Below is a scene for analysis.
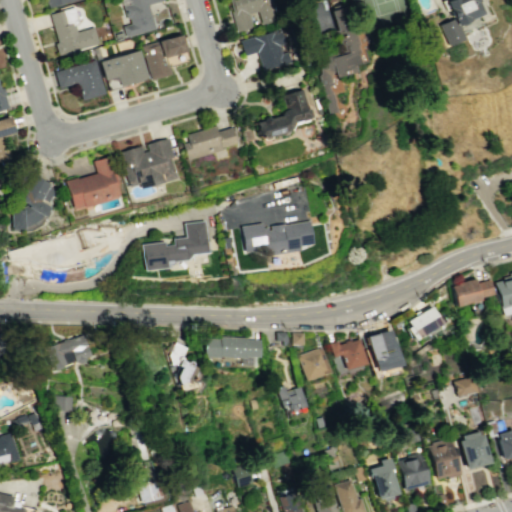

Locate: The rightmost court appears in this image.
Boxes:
[370,0,409,26]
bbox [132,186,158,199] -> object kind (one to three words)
swimming pool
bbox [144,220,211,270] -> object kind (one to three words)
house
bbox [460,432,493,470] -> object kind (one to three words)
house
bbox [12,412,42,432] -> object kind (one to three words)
building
